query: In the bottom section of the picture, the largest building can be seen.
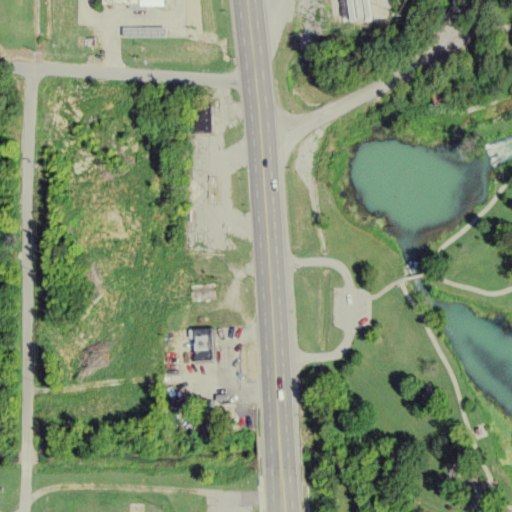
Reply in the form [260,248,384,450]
[189,328,212,362]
